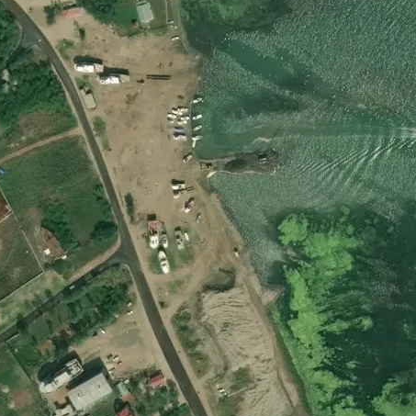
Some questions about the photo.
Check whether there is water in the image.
Yes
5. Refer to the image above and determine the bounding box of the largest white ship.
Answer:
[40,360,83,391]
